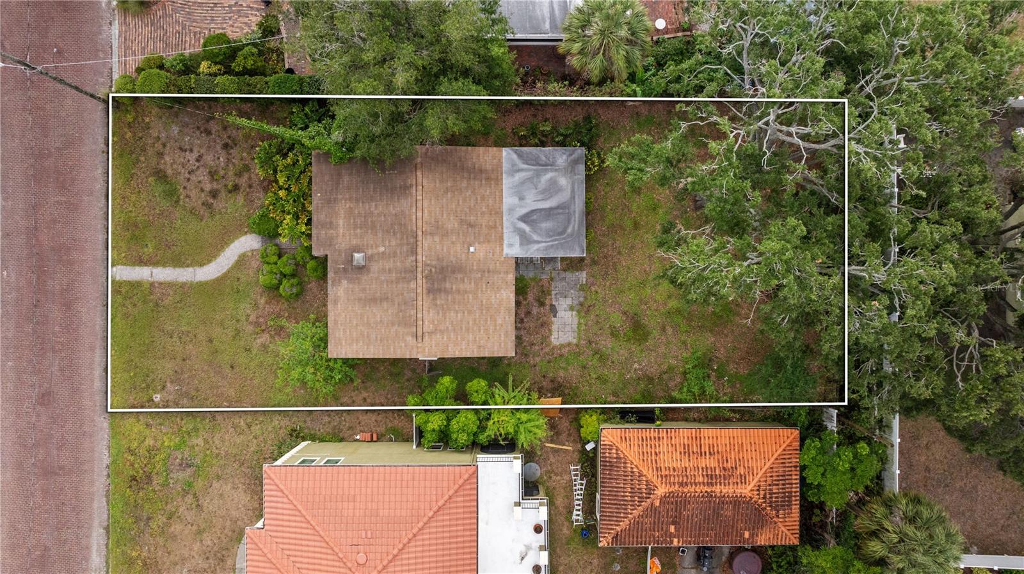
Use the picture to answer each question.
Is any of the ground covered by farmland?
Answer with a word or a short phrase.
No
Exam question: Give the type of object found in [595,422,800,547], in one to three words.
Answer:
building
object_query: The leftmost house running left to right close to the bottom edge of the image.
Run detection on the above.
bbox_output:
[244,442,549,574]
